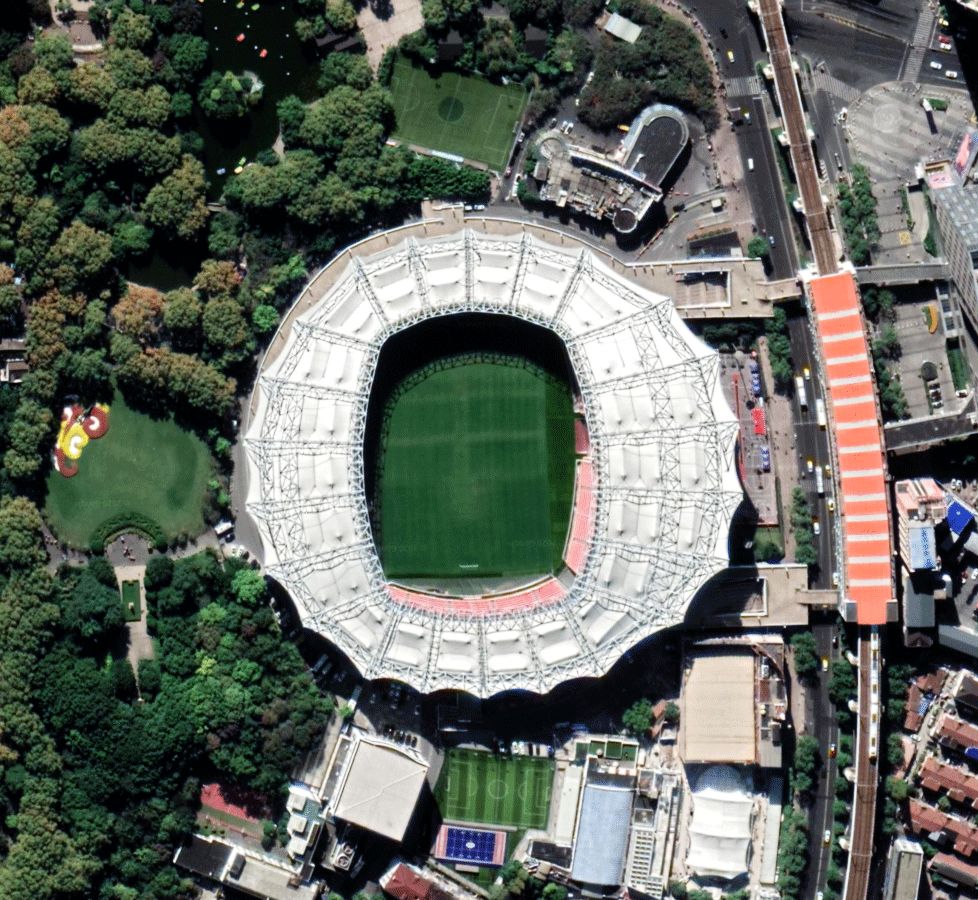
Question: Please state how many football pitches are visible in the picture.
3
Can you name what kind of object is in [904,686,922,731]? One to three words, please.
house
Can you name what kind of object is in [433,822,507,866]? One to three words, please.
sports court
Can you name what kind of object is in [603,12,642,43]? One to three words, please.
shed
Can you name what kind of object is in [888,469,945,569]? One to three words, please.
building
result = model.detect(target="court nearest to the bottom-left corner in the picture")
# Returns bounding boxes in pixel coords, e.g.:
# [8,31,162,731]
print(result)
[198,782,280,841]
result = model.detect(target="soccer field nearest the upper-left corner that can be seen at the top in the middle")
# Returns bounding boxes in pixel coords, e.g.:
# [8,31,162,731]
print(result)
[385,54,529,171]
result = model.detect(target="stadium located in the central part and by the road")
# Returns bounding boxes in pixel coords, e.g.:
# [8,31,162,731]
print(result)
[244,228,743,698]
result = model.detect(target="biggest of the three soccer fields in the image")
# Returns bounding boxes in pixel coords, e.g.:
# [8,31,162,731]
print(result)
[366,335,577,578]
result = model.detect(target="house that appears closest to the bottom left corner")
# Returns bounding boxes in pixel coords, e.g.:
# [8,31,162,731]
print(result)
[171,833,238,880]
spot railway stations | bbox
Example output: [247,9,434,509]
[797,257,898,624]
